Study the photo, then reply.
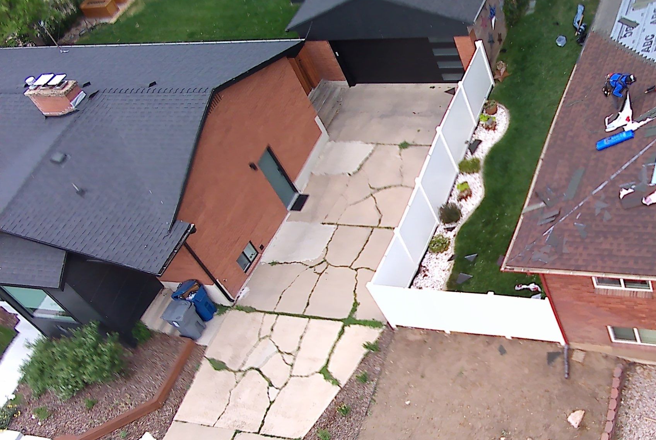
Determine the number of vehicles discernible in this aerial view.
0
